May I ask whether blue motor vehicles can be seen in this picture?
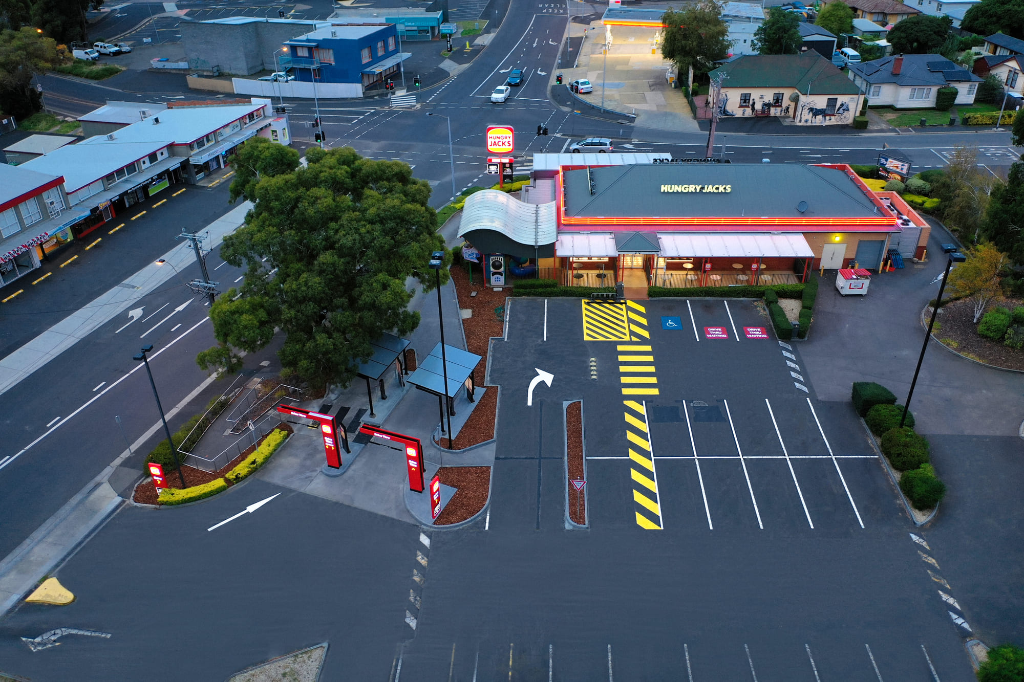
Yes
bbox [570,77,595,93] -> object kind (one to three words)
car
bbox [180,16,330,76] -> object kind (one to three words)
building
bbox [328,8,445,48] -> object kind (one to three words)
building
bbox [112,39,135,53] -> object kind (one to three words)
car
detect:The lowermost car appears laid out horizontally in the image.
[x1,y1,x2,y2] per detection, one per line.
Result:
[569,134,614,154]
